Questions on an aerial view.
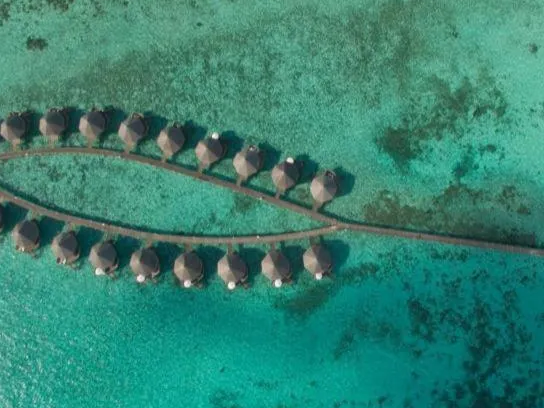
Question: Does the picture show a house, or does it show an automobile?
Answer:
house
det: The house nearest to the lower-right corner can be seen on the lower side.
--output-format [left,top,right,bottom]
[303,245,333,278]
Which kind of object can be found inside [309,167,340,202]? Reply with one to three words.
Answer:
house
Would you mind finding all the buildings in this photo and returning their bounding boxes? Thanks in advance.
[262,253,292,286]
[157,121,189,155]
[233,144,264,178]
[271,155,301,190]
[79,103,111,138]
[175,253,205,287]
[2,107,33,141]
[309,167,340,202]
[40,103,72,137]
[53,233,85,269]
[14,219,46,255]
[91,243,122,278]
[119,111,151,144]
[219,255,249,289]
[303,245,333,278]
[195,132,227,166]
[132,249,163,283]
